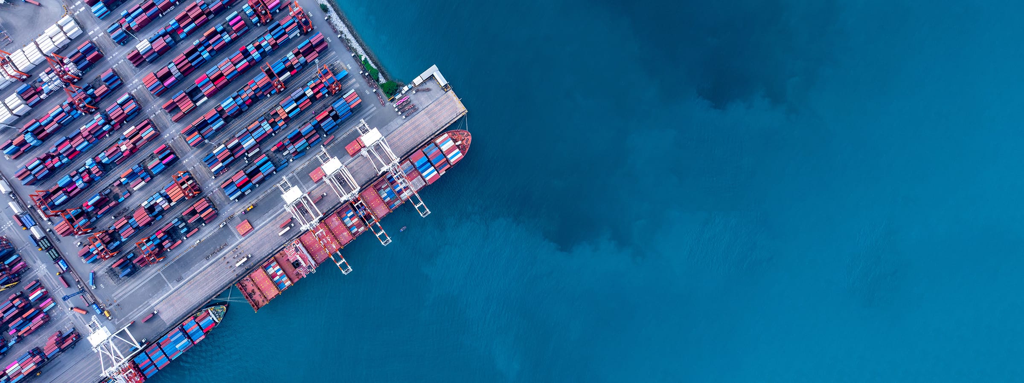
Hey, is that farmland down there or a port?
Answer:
port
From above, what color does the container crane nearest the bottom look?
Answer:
white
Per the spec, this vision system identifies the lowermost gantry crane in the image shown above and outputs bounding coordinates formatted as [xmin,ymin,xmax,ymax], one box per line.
[84,313,155,383]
